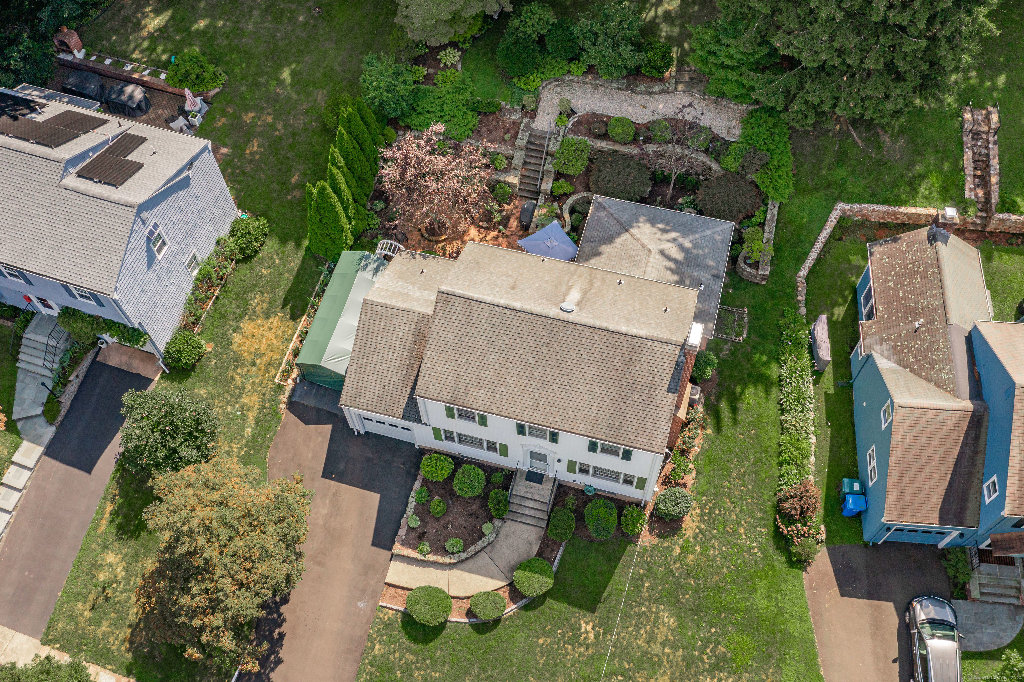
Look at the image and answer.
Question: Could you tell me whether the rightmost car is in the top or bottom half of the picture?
bottom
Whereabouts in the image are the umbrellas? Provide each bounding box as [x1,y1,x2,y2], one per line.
[183,89,196,111]
[518,221,577,259]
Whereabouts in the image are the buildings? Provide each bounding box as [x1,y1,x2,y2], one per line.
[0,87,239,371]
[845,206,1024,582]
[340,193,737,506]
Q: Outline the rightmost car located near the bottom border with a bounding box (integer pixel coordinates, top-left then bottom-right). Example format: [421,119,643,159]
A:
[901,600,958,682]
